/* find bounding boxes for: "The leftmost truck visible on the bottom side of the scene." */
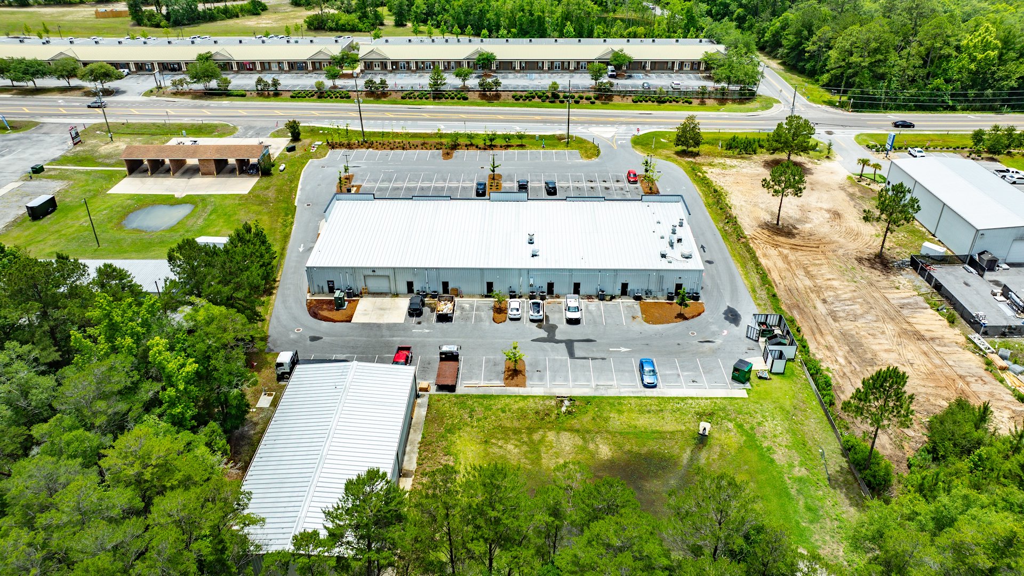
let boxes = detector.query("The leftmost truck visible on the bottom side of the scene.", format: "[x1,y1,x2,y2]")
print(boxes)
[275,350,317,380]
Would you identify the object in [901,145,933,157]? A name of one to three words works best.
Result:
vehicle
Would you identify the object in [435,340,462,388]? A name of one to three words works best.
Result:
truck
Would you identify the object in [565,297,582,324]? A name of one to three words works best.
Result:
vehicle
